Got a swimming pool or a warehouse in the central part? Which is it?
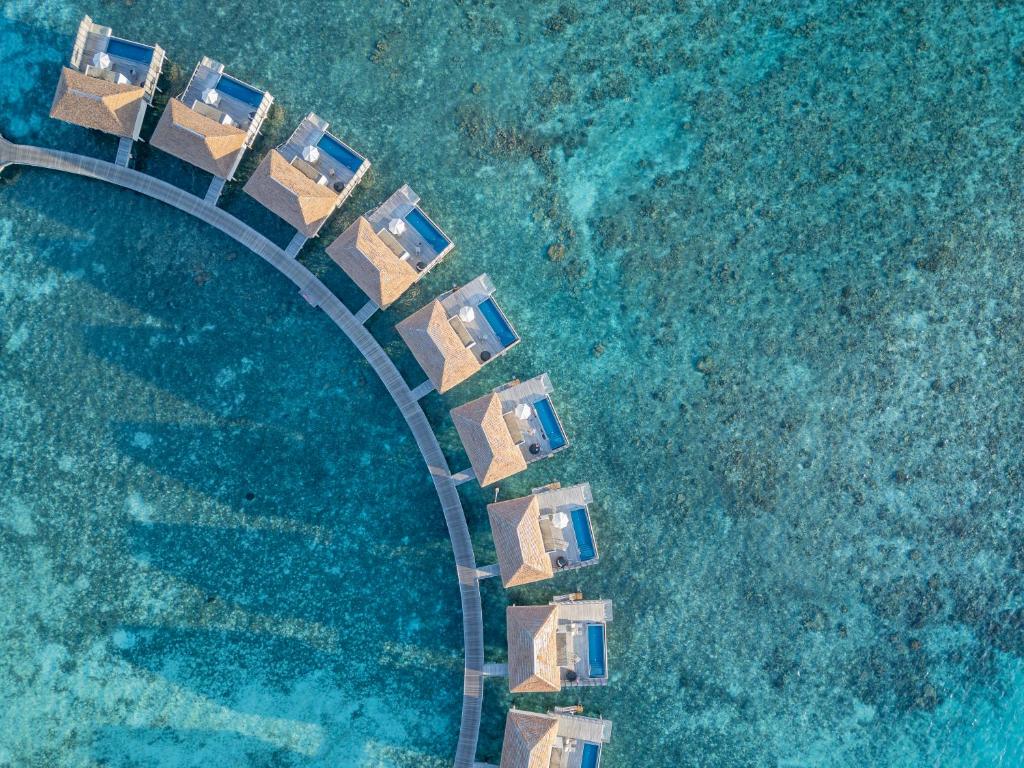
swimming pool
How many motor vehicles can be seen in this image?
none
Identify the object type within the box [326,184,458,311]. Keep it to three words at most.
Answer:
house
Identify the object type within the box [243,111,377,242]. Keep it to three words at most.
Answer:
house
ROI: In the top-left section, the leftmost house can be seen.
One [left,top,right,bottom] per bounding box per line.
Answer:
[51,12,177,146]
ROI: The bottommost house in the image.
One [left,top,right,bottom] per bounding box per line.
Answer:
[501,694,614,768]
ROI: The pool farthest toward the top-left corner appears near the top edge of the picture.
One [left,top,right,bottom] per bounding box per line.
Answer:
[105,37,165,66]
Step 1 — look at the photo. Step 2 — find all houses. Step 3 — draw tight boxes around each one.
[450,372,574,487]
[487,481,603,588]
[326,184,458,311]
[150,55,282,185]
[51,12,177,146]
[508,590,615,692]
[243,111,377,242]
[396,272,525,395]
[501,694,614,768]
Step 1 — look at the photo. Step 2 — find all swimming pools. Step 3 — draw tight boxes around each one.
[403,206,453,257]
[476,294,521,350]
[215,73,270,114]
[315,131,366,179]
[586,621,606,679]
[532,394,570,453]
[568,504,598,563]
[105,37,165,66]
[578,738,600,768]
